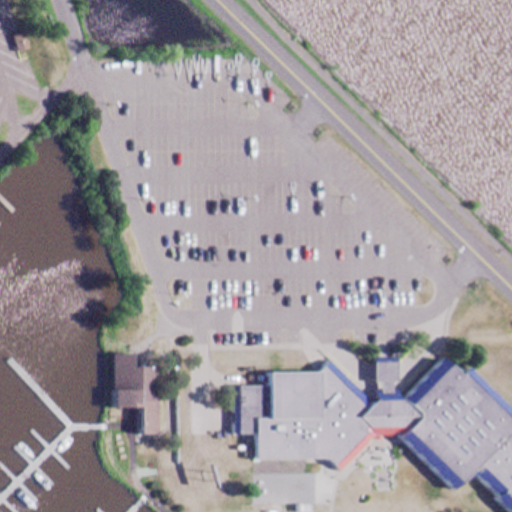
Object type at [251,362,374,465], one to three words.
building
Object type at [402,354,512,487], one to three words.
building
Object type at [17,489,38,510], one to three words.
boat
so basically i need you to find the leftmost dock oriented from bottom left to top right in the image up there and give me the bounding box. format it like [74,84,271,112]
[0,426,74,503]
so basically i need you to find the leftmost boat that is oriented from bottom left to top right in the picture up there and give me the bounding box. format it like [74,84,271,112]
[56,436,74,454]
